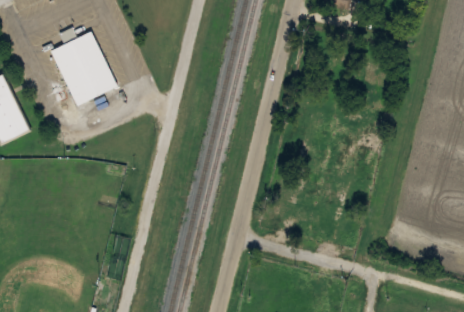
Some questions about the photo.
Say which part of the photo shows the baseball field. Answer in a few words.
bottom left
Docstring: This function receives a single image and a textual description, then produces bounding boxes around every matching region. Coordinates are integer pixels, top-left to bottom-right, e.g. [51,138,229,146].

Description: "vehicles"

[43,44,54,51]
[75,26,85,34]
[270,71,275,82]
[120,90,127,101]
